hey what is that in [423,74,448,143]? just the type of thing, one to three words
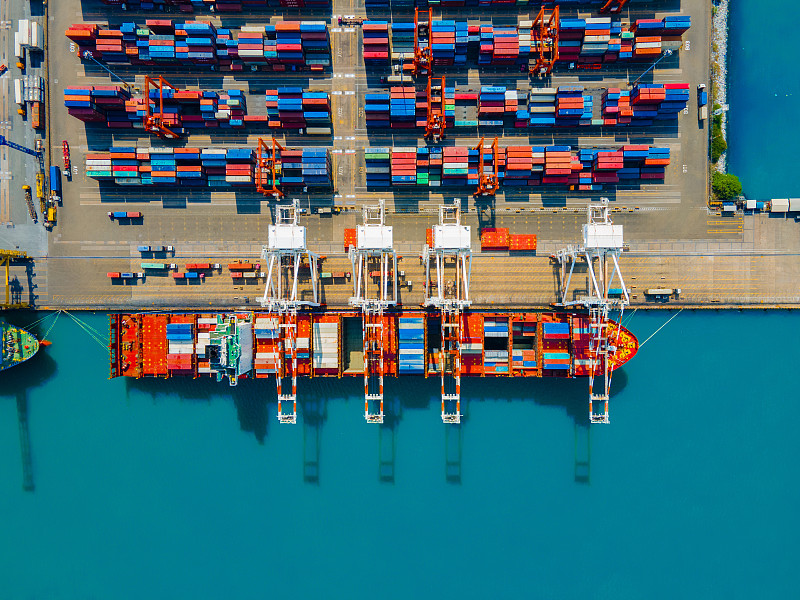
crane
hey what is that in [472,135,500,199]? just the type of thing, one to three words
crane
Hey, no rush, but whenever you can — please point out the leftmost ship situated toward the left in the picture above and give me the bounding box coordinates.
[0,320,52,371]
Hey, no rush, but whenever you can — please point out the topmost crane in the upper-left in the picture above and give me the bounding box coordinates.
[144,74,181,143]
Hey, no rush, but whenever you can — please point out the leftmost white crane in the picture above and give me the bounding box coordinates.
[255,199,323,423]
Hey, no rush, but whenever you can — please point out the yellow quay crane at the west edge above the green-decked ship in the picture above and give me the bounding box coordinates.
[0,250,38,308]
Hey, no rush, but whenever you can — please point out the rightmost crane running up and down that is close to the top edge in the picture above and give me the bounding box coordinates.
[528,4,559,77]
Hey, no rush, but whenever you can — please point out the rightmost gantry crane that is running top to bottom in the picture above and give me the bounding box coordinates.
[550,198,633,423]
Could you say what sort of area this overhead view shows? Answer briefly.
port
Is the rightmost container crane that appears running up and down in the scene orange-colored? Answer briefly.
No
